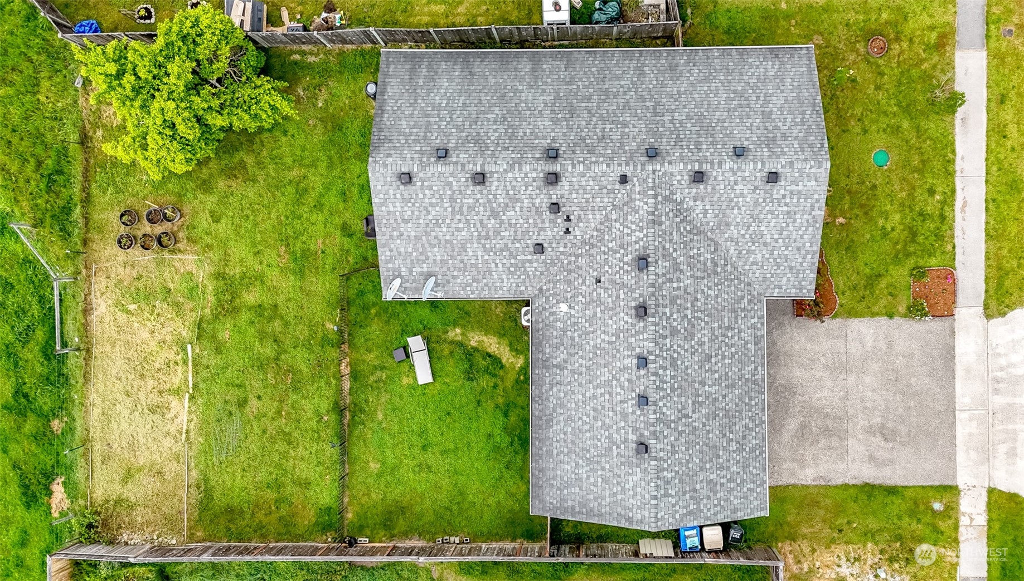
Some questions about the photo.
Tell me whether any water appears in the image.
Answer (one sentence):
No, the picture contains no water.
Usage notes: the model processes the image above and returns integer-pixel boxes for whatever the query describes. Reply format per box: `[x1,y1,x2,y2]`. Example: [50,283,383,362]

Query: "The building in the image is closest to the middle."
[367,46,829,529]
